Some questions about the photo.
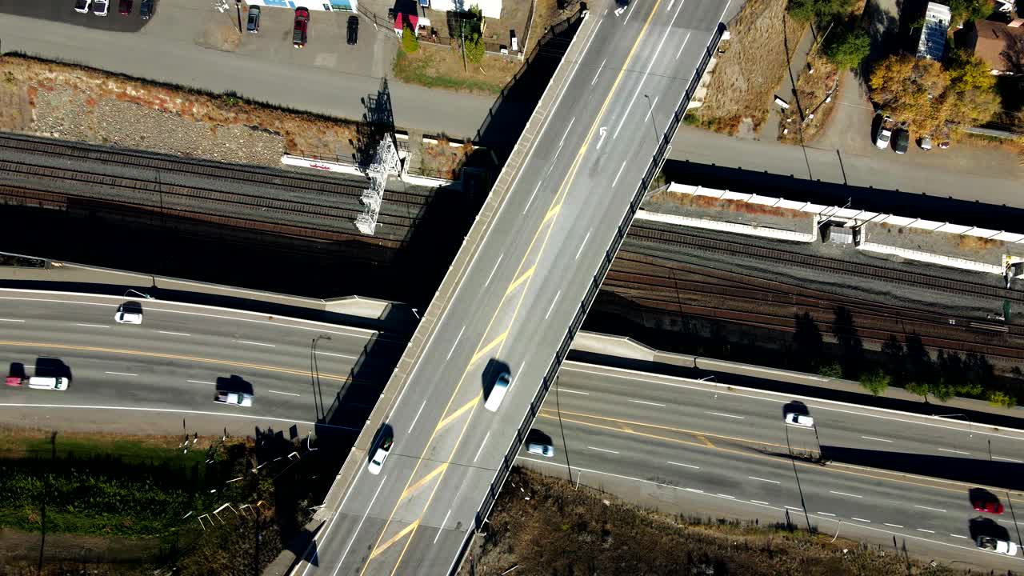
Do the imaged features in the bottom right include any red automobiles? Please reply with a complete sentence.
Yes, a red automobile can be seen in the bottom right.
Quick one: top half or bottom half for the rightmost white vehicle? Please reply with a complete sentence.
You can find the rightmost white vehicle in the bottom half.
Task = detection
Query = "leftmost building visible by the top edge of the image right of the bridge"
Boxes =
[911,2,951,65]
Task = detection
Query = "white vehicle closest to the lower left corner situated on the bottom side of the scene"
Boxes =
[25,375,73,392]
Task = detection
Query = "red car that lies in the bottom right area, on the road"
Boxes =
[970,499,1003,516]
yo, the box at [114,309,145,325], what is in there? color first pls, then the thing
white car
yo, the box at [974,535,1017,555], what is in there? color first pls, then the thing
white vehicle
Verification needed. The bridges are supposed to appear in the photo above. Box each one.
[318,0,725,532]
